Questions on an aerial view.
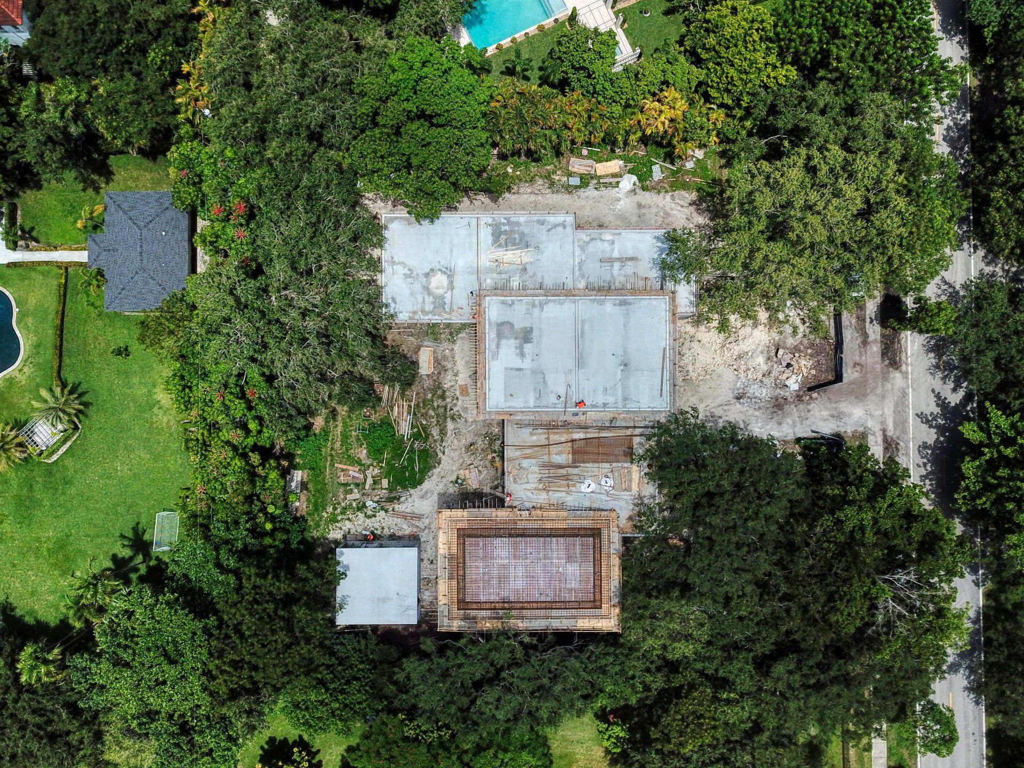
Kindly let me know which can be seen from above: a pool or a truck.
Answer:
pool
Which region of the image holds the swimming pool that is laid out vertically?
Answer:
left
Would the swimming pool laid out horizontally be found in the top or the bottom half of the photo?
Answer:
top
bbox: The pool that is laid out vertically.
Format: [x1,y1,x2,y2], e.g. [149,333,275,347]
[0,285,25,379]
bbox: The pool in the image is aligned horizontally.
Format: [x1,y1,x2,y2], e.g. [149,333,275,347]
[454,0,572,50]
